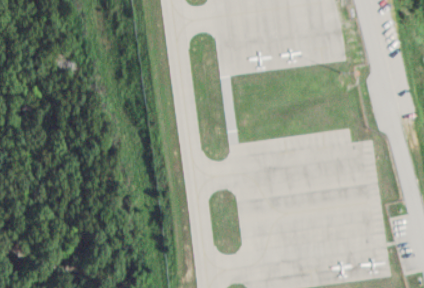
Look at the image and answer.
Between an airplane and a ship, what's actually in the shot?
airplane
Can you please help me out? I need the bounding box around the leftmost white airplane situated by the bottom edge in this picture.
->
[330,261,353,278]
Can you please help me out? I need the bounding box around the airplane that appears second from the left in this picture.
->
[280,48,302,64]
